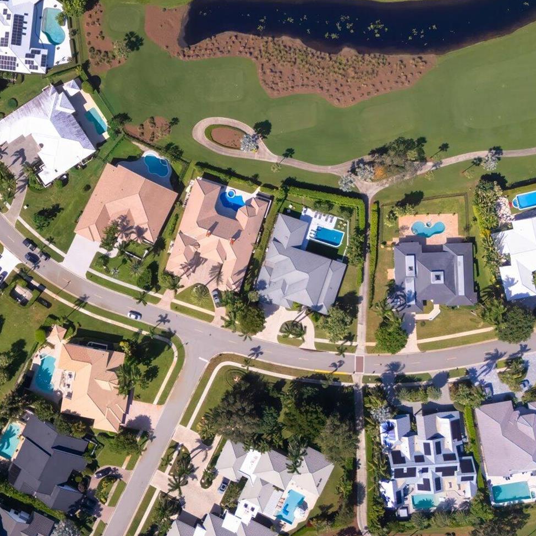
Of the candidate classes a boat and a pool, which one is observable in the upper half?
pool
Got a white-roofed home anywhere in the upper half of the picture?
Yes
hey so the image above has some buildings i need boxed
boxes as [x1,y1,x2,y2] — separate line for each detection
[392,242,475,310]
[166,179,269,291]
[378,412,478,511]
[0,0,47,75]
[0,503,55,536]
[473,401,536,488]
[165,440,335,536]
[55,342,128,434]
[46,324,67,346]
[0,416,88,515]
[254,214,347,315]
[78,163,178,243]
[492,217,536,300]
[0,79,95,185]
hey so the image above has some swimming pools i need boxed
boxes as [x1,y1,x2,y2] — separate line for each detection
[513,190,536,210]
[411,220,447,239]
[34,354,57,395]
[315,226,346,248]
[0,423,22,459]
[41,7,66,46]
[85,106,109,135]
[412,495,438,511]
[143,153,171,178]
[274,489,306,526]
[219,189,243,212]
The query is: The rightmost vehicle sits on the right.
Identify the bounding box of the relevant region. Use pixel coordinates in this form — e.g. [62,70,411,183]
[517,379,533,391]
